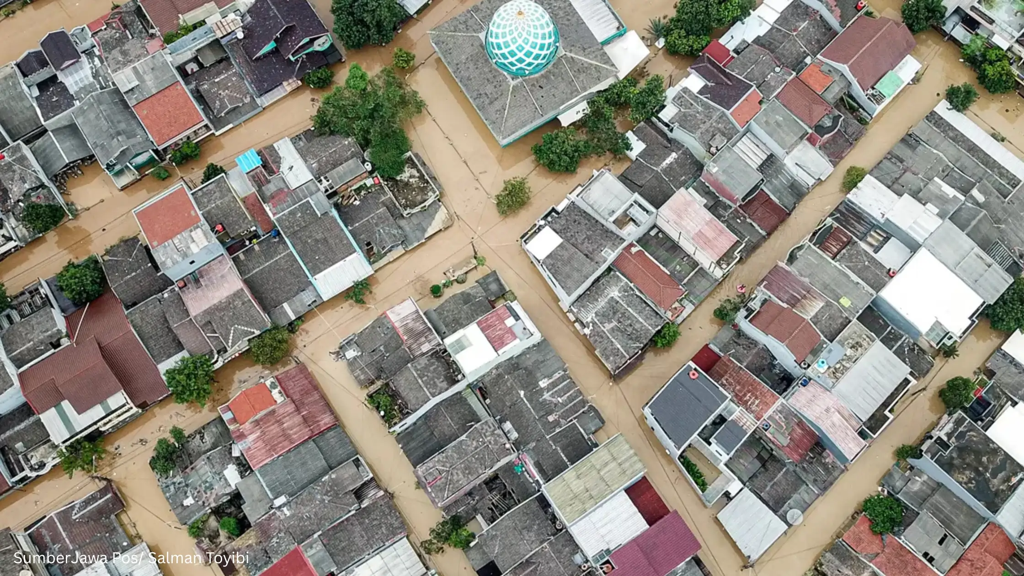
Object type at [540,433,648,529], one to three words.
house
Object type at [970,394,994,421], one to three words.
car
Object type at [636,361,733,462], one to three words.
house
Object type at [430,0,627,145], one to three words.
building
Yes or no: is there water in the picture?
Yes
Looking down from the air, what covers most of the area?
buildings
